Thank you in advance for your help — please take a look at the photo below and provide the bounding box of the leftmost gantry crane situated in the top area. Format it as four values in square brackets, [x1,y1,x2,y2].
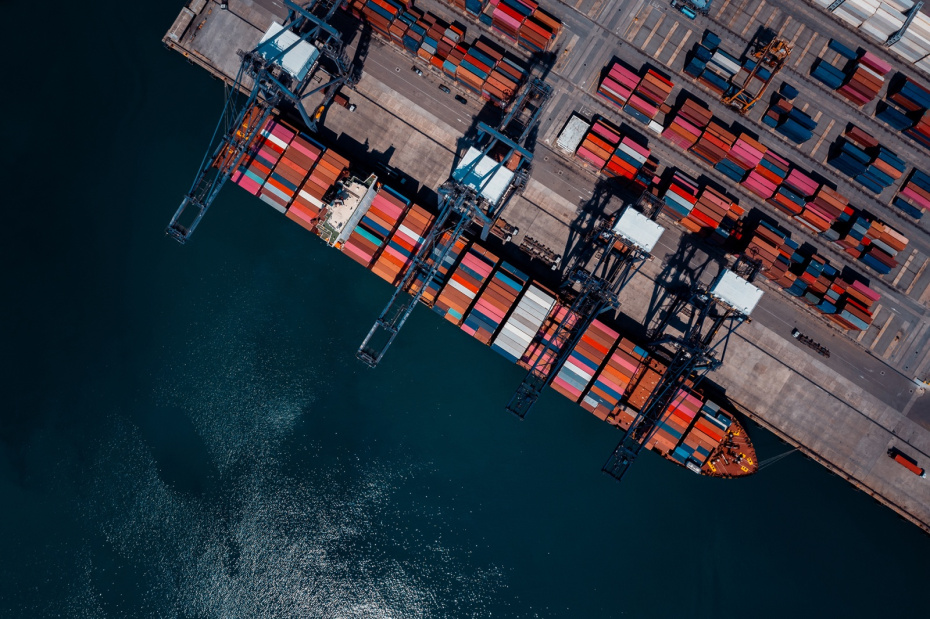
[163,0,367,249]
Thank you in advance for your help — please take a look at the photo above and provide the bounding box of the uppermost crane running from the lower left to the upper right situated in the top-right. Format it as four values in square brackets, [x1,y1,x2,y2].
[723,34,796,113]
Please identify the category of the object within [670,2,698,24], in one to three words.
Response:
truck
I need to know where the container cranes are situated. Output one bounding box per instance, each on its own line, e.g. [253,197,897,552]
[163,0,367,249]
[354,77,554,369]
[723,34,796,113]
[505,186,669,418]
[599,250,768,479]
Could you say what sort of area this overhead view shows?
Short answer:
port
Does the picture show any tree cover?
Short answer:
No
